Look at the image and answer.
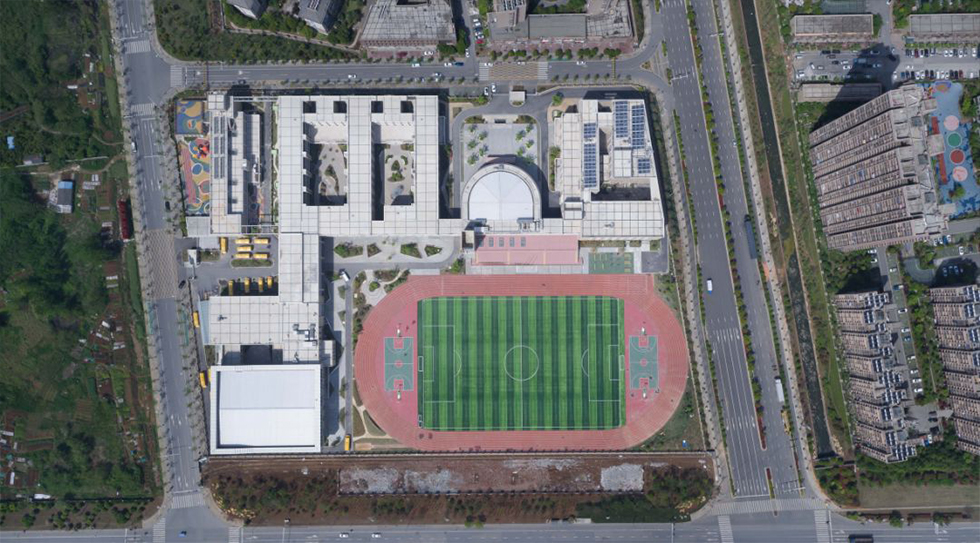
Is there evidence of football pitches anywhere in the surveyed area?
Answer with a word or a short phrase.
Yes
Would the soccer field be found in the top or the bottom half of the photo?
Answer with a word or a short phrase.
bottom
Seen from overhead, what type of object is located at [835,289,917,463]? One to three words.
building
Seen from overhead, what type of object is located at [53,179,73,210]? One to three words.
shed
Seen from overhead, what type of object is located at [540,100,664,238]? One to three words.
building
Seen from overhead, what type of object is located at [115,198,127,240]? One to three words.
shed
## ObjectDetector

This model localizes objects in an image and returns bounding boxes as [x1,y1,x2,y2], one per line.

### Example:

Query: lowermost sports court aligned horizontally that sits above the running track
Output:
[589,253,633,273]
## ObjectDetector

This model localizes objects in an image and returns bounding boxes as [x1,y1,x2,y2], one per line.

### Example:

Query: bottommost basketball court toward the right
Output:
[630,336,657,389]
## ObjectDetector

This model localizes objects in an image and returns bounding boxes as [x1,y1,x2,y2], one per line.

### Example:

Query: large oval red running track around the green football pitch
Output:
[355,274,687,450]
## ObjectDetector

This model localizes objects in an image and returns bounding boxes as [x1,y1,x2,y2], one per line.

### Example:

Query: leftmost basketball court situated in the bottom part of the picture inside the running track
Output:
[384,337,413,392]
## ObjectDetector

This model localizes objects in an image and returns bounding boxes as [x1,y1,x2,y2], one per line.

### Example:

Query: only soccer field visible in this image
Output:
[418,297,624,430]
